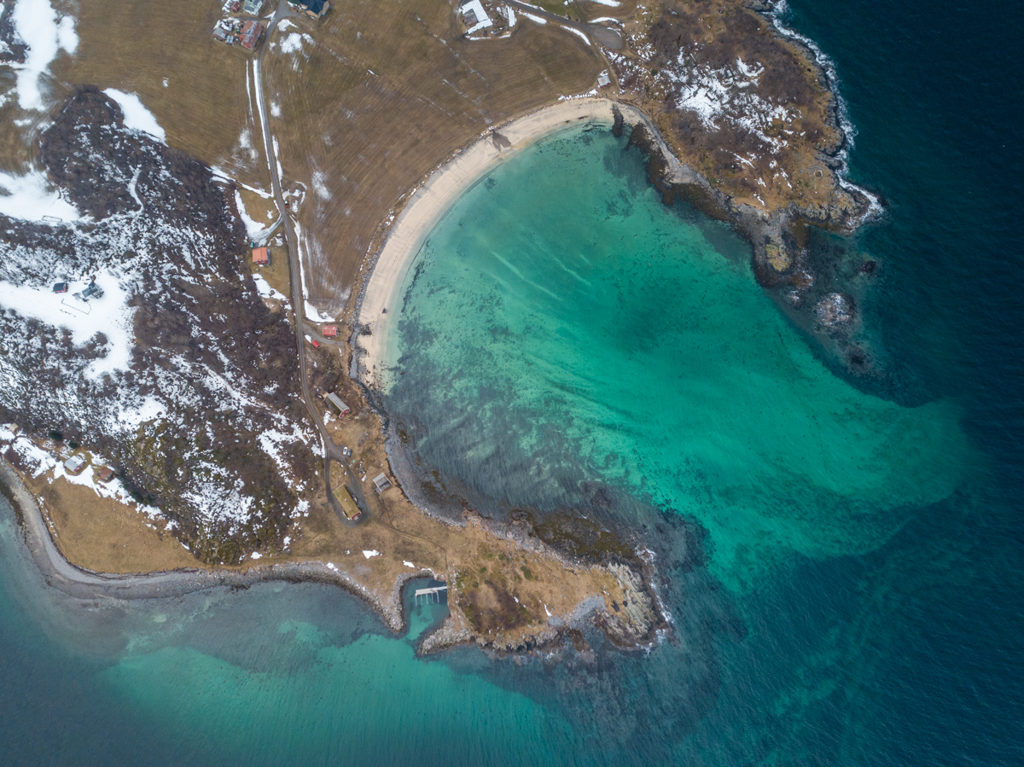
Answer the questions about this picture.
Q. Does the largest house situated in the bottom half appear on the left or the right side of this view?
left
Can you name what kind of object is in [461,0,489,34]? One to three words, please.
barn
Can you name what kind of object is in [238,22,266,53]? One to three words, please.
barn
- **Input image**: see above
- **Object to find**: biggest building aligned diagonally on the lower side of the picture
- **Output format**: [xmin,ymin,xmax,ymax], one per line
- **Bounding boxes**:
[334,485,362,519]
